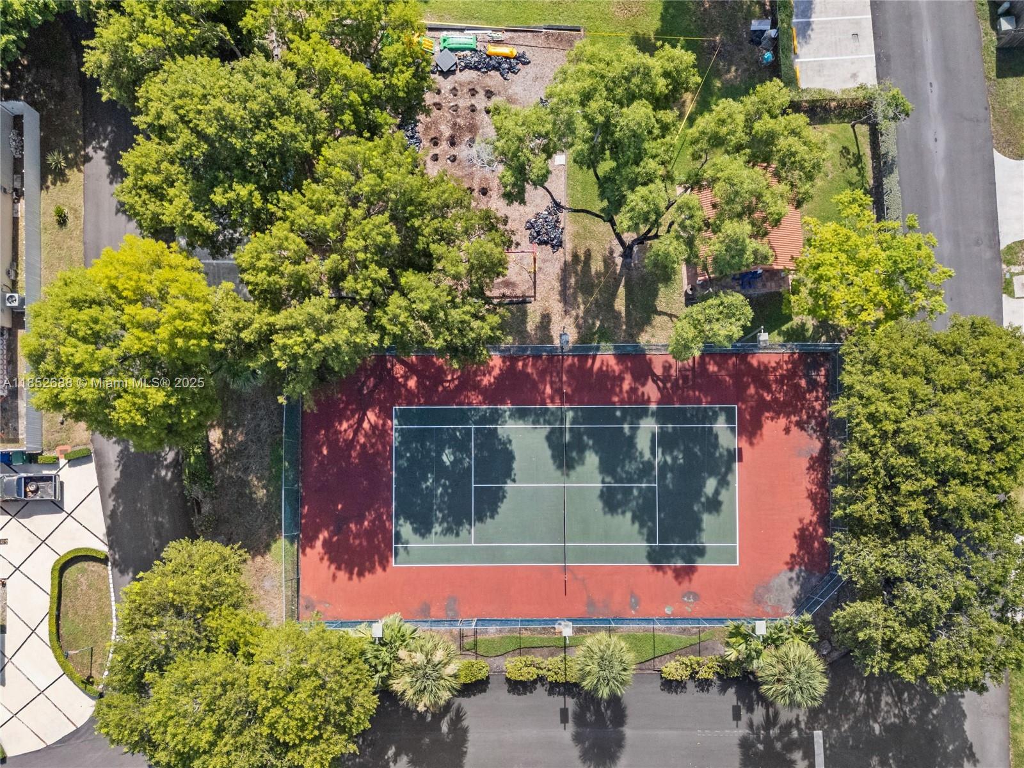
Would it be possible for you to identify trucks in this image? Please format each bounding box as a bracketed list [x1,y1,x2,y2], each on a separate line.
[0,472,68,505]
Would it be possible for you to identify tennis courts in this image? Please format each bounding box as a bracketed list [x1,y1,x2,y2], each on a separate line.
[299,353,831,619]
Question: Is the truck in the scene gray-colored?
Yes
